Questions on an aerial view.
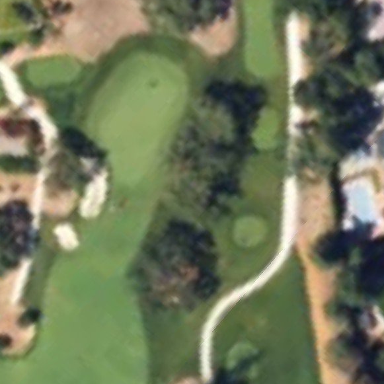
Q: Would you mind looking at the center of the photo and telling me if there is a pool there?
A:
No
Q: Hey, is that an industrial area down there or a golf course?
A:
golf course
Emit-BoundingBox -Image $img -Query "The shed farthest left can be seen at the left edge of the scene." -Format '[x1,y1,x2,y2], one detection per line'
[0,130,29,154]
